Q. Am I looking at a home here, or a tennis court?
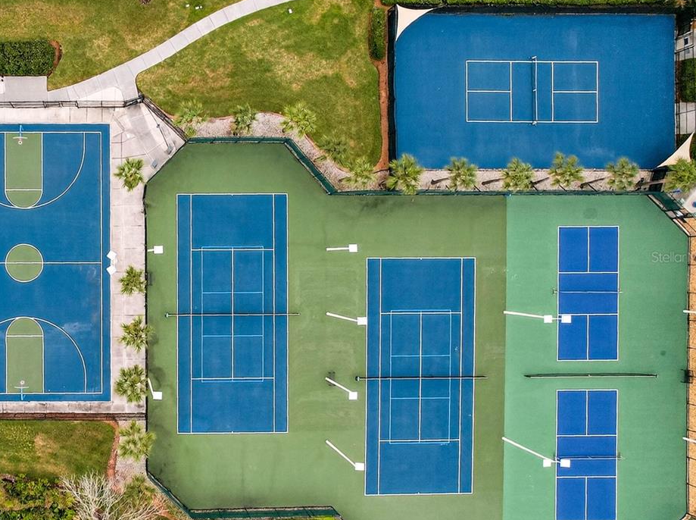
tennis court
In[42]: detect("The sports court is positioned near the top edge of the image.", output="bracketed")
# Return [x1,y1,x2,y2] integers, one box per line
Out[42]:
[395,13,676,168]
